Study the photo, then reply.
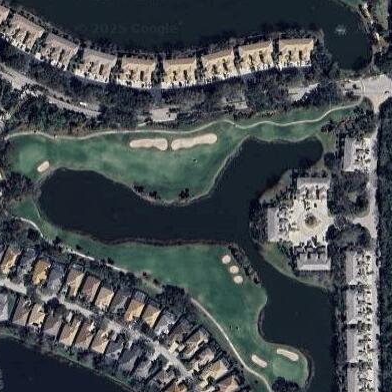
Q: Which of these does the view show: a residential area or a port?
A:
residential area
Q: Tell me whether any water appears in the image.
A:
Yes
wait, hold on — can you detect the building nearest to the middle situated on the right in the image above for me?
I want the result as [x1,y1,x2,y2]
[268,207,288,241]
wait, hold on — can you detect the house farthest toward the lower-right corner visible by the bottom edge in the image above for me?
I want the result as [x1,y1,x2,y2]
[343,368,364,392]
